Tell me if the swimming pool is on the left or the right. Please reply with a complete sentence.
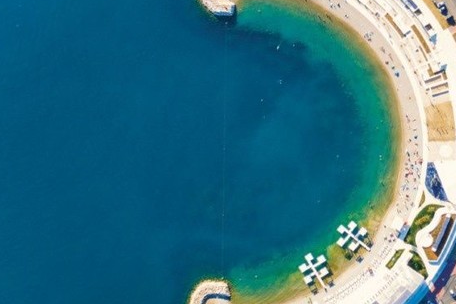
The swimming pool sits on the right side.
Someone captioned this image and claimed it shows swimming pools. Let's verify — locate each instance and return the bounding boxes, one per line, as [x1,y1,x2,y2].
[425,161,446,202]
